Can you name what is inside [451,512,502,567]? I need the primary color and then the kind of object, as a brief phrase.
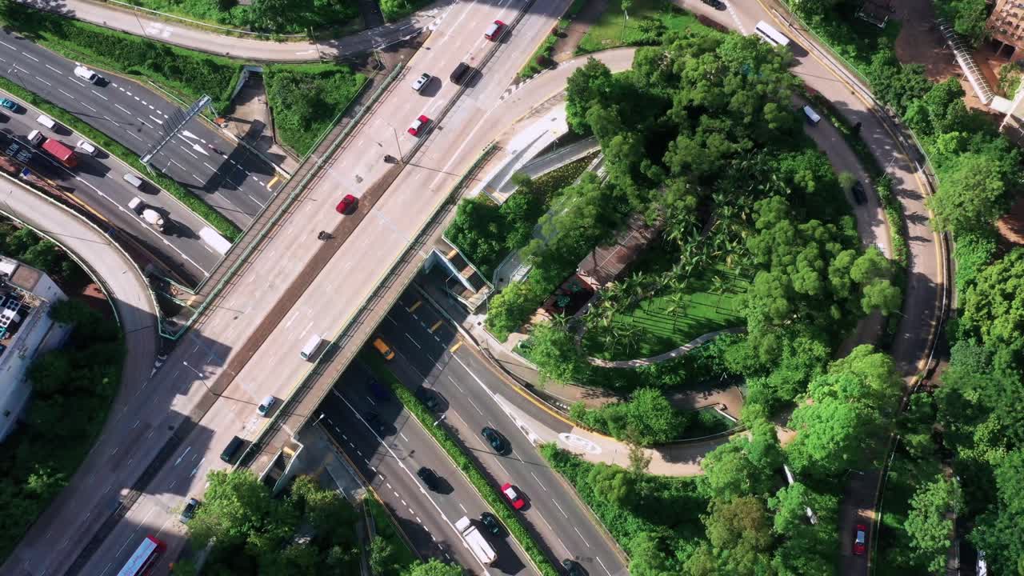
white truck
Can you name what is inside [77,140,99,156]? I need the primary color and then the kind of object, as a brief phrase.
white car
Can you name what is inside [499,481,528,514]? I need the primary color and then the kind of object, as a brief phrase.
red car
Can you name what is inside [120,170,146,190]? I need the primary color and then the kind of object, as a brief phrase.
white vehicle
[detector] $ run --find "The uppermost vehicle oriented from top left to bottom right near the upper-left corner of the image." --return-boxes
[71,62,101,84]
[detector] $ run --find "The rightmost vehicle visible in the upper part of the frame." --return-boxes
[848,181,868,207]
